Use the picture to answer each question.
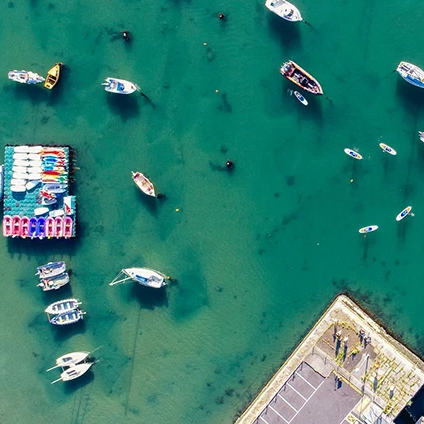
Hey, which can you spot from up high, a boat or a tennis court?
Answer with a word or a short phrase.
boat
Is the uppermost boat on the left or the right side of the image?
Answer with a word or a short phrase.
right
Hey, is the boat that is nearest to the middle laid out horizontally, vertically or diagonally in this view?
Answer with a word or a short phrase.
diagonally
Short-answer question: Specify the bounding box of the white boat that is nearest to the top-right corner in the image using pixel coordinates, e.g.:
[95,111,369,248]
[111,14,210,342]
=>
[397,61,424,90]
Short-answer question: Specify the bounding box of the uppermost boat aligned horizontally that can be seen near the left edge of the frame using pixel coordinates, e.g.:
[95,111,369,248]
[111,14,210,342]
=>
[7,69,46,86]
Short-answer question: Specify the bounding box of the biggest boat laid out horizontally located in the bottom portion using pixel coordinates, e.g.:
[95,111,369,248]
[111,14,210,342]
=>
[106,268,172,288]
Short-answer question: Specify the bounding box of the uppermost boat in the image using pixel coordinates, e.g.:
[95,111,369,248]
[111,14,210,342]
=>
[265,0,320,35]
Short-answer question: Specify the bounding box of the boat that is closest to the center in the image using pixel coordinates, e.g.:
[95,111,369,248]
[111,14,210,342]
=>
[130,172,162,200]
